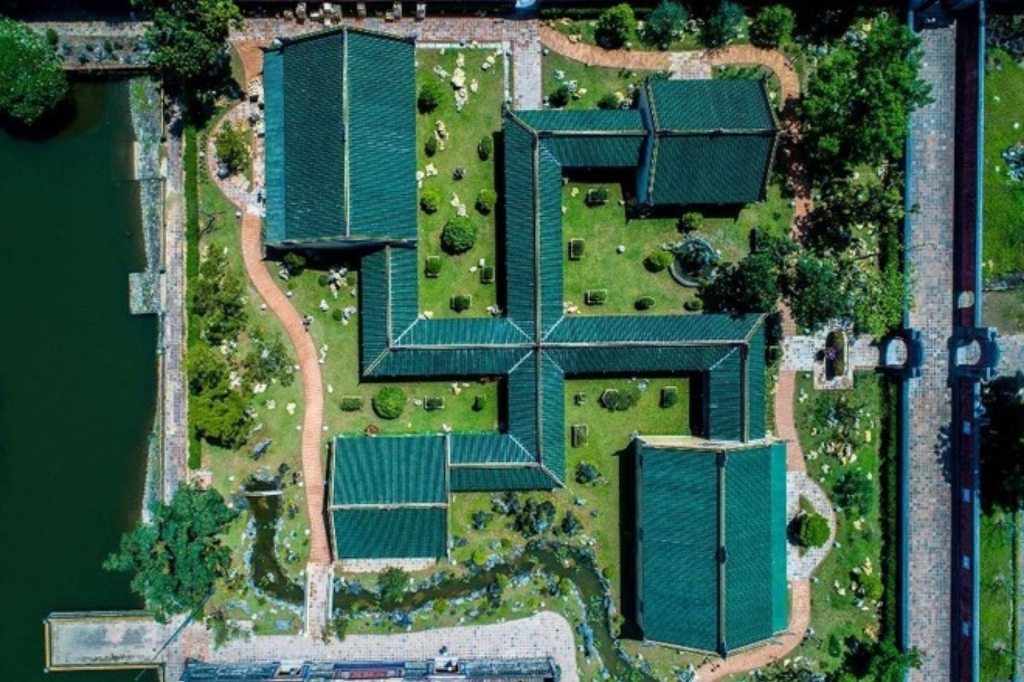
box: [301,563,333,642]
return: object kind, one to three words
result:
bridge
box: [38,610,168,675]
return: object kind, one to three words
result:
pier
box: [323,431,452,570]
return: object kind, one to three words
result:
building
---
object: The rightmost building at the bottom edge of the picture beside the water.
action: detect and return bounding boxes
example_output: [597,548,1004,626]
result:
[636,437,787,670]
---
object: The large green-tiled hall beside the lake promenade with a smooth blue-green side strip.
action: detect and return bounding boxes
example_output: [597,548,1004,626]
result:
[264,29,422,253]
